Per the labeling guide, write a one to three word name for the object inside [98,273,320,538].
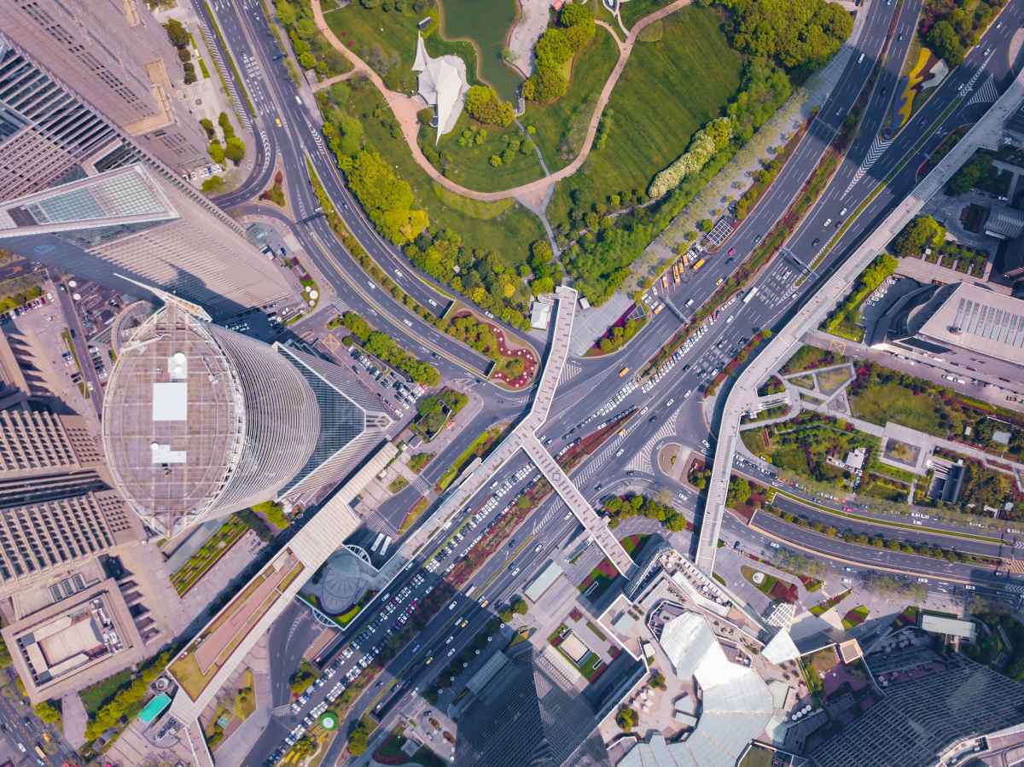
building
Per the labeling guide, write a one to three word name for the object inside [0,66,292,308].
building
